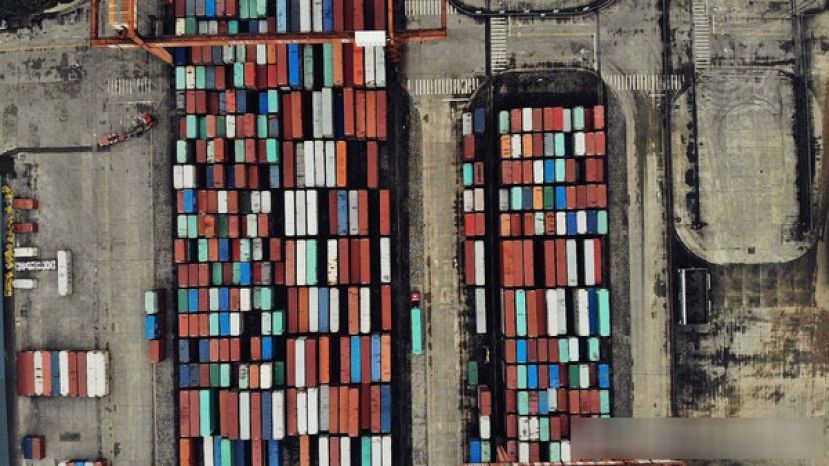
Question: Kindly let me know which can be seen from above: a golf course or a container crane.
container crane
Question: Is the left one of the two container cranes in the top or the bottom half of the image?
top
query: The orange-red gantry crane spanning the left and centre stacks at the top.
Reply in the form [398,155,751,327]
[91,0,445,74]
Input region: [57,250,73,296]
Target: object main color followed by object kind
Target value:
white vehicle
